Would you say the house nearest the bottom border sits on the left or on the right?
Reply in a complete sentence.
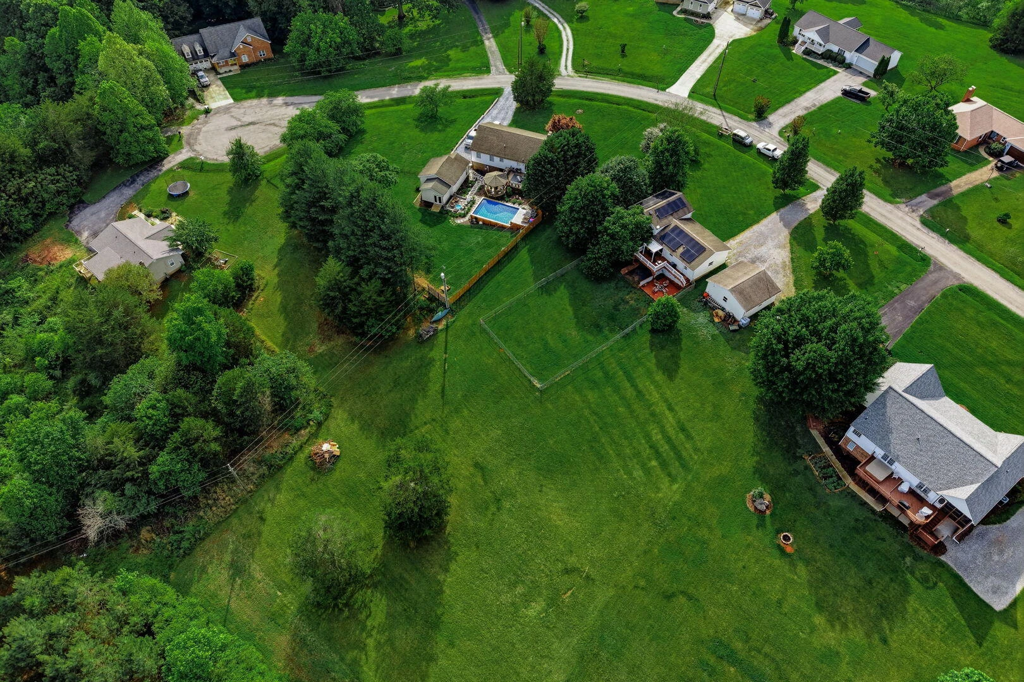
You can find the house nearest the bottom border on the right side of the picture.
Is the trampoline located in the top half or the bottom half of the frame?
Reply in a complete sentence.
The trampoline sits in the top half of the picture.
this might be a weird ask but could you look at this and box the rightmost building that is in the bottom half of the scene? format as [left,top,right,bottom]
[840,357,1024,550]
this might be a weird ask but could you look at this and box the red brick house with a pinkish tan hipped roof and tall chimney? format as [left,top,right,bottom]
[932,84,1024,173]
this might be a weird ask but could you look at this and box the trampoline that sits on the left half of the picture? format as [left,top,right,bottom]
[162,177,190,199]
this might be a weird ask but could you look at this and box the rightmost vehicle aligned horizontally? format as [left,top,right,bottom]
[843,86,870,99]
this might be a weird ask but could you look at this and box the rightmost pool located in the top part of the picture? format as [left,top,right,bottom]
[472,197,535,234]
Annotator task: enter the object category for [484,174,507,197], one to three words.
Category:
gazebo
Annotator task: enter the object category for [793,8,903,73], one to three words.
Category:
house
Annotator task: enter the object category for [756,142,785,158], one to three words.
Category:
vehicle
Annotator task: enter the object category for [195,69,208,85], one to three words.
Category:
vehicle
